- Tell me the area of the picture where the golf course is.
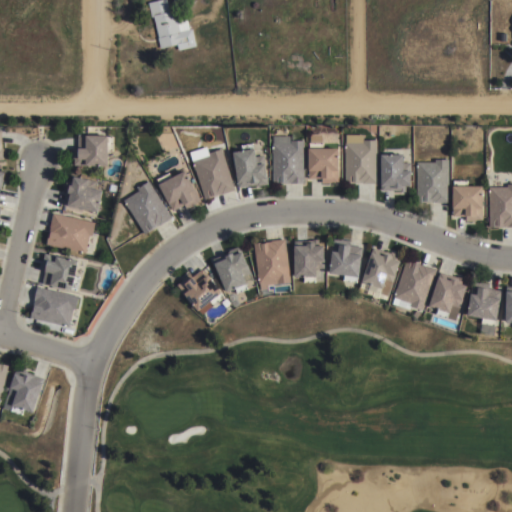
bottom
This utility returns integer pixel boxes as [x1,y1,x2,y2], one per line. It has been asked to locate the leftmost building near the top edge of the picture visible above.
[150,0,196,50]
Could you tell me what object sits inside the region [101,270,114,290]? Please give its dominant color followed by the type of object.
blue swimming pool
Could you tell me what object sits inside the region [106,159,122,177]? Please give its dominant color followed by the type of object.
blue swimming pool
